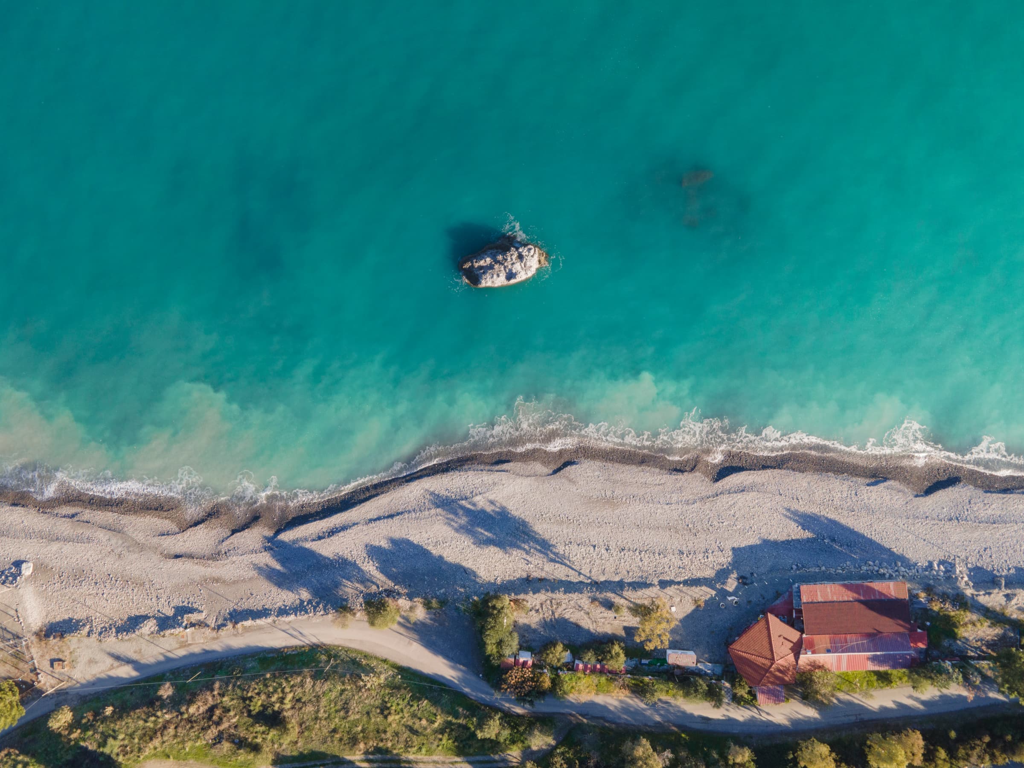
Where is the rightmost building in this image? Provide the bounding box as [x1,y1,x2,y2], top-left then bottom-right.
[791,576,927,672]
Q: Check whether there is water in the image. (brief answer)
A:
Yes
